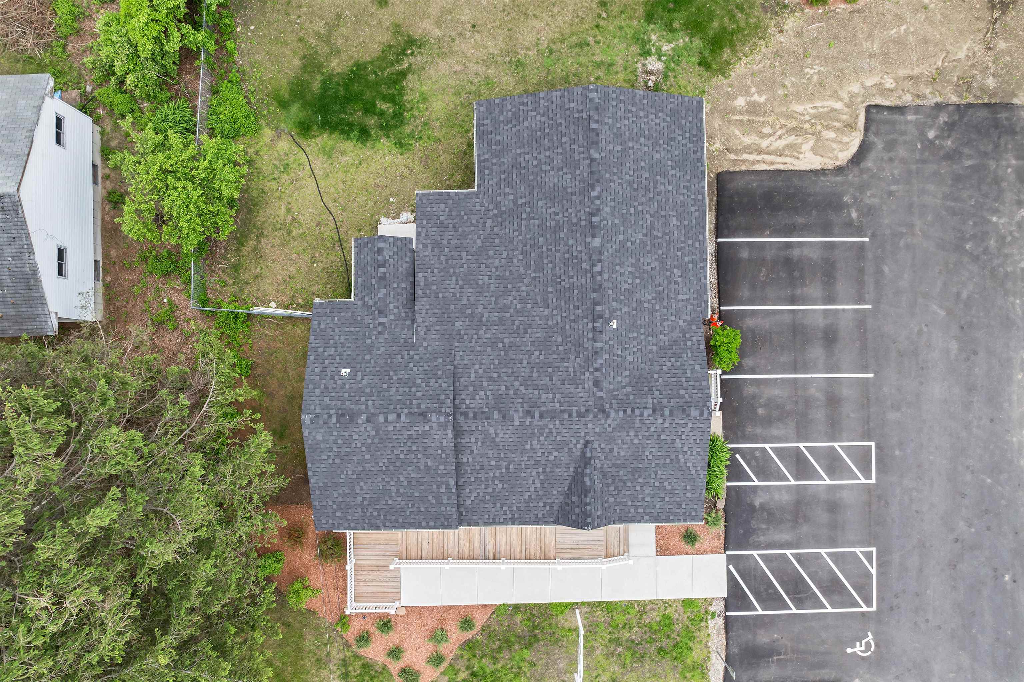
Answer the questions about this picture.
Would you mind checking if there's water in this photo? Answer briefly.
No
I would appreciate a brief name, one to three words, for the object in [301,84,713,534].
house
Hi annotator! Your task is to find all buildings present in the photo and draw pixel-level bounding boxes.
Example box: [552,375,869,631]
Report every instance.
[301,84,713,534]
[0,74,105,337]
